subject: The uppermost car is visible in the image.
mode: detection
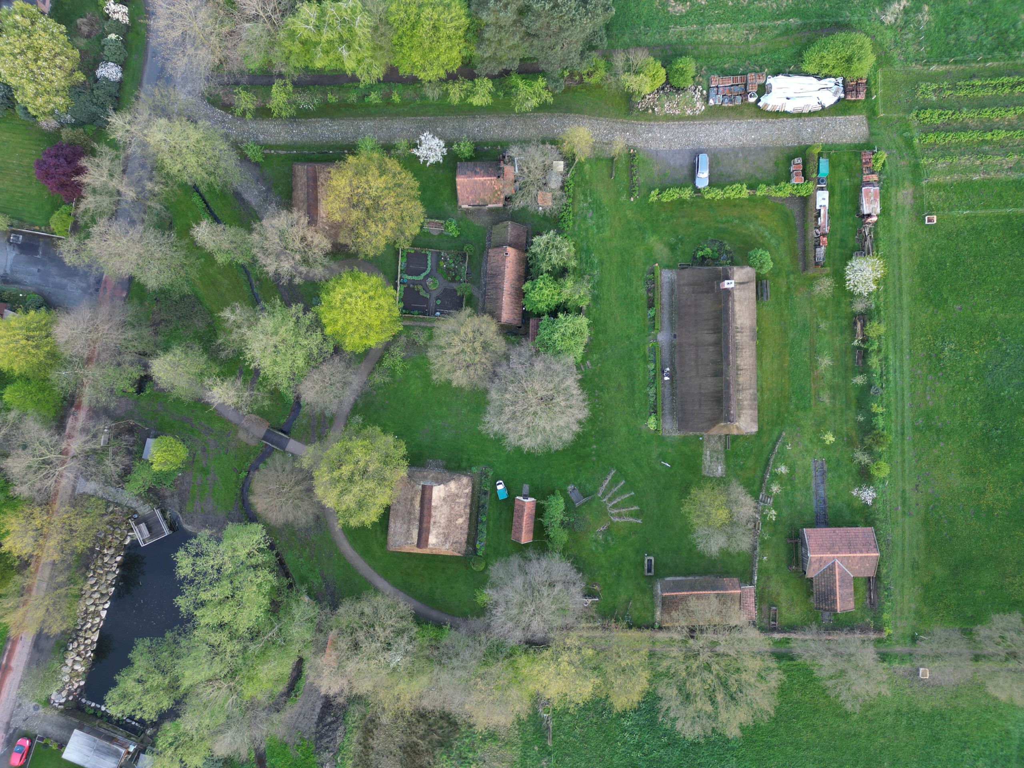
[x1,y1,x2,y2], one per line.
[693,152,711,190]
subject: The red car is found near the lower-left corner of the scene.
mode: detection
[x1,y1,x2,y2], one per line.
[8,732,35,768]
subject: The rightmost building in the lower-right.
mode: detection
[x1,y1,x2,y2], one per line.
[795,524,882,615]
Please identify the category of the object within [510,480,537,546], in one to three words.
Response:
shed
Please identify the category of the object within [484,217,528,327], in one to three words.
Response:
barn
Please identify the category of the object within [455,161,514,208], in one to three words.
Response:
house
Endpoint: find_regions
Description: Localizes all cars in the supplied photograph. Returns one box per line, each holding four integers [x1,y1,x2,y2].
[693,152,711,190]
[8,732,35,768]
